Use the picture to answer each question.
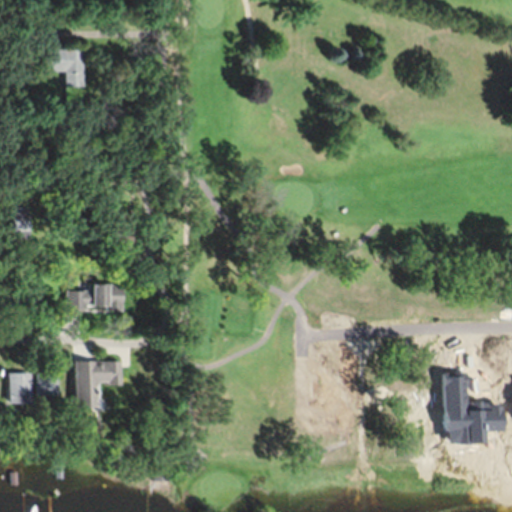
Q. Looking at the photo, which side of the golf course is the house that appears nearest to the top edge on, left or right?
to the left of it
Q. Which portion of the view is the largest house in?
bottom right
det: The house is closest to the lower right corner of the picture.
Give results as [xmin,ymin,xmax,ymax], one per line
[445,374,505,444]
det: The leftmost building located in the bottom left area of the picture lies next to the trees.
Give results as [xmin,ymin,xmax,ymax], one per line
[8,374,33,405]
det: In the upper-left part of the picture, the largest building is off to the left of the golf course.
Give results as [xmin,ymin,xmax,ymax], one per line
[53,48,86,87]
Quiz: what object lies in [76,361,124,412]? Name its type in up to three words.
house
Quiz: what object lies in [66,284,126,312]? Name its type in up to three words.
house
